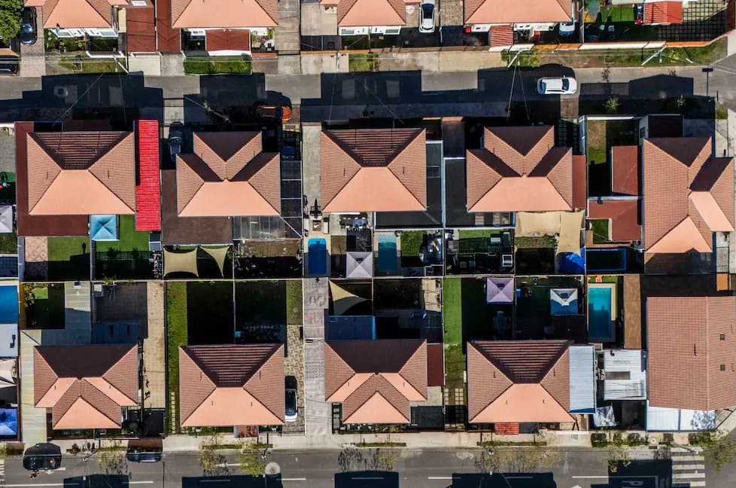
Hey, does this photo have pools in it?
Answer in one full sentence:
Yes, I can see a pool in this picture.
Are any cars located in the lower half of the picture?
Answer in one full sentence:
Yes, you'll find a car in the lower half of the picture.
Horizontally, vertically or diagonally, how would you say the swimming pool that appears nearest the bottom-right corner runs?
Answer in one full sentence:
I'd say the swimming pool that appears nearest the bottom-right corner is aligned vertically in the picture.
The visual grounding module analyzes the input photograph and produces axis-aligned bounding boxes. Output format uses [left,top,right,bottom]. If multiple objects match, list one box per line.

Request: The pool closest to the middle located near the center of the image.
[376,232,399,275]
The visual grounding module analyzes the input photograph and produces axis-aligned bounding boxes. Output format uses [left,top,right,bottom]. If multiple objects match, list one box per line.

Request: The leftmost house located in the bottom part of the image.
[32,343,143,430]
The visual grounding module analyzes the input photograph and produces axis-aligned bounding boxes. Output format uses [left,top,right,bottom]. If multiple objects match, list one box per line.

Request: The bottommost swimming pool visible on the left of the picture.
[0,283,18,323]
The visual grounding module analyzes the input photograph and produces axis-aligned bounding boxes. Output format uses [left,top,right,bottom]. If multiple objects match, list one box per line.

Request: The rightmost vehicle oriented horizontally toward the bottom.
[125,442,167,461]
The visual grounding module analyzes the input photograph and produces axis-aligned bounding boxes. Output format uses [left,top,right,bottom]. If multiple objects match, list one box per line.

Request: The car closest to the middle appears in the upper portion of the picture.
[279,125,297,159]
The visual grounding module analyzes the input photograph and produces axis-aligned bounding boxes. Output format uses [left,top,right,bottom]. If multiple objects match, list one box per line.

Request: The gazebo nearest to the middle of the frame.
[346,252,373,279]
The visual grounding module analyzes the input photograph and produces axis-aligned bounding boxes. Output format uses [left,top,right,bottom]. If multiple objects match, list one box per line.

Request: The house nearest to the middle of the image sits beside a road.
[320,127,427,214]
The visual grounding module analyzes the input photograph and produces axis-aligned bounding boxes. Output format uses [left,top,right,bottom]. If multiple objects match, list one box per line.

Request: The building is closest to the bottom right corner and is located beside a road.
[636,295,736,413]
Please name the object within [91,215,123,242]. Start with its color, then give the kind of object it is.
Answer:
blue gazebo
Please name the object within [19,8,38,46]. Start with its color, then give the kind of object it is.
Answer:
black car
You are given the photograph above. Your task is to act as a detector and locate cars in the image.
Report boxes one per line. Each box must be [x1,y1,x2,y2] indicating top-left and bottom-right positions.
[19,8,38,46]
[536,74,576,95]
[166,123,185,161]
[417,0,436,33]
[285,379,301,419]
[556,1,576,40]
[255,103,296,123]
[24,447,65,467]
[279,125,297,159]
[125,442,167,461]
